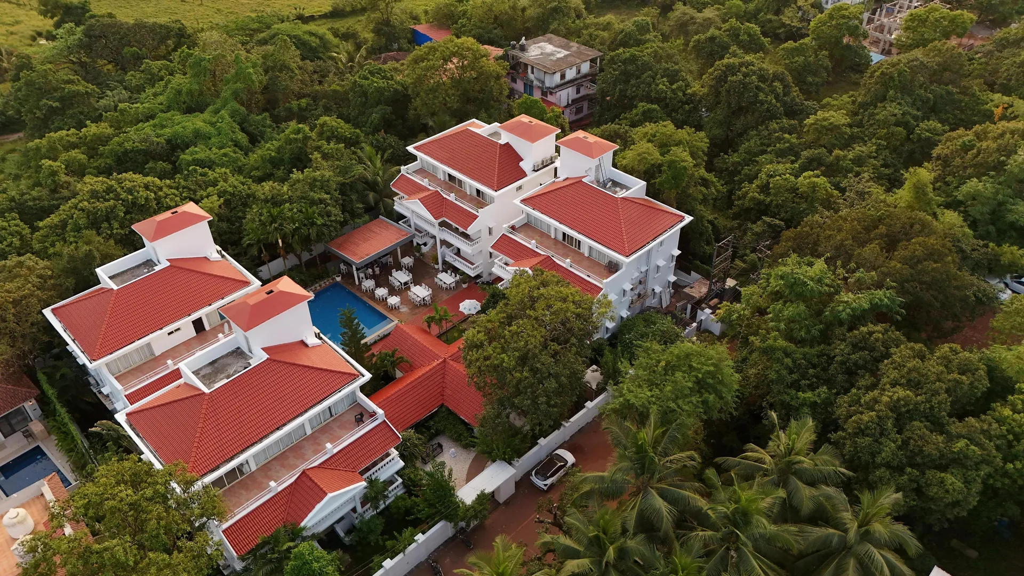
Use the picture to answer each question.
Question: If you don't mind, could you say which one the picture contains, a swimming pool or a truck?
swimming pool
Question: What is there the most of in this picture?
trees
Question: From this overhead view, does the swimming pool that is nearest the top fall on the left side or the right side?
left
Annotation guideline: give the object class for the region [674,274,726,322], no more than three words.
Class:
shed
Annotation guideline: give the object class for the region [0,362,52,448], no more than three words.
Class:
house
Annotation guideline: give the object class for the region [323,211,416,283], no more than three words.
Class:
building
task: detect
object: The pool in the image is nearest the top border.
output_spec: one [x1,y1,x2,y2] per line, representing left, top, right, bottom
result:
[309,281,391,350]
